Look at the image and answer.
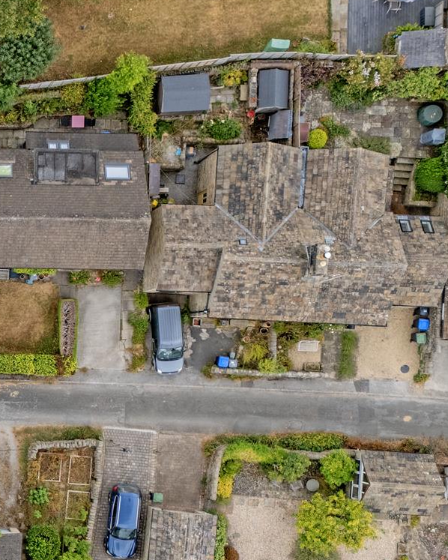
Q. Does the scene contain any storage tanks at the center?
No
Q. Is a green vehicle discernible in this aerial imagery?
No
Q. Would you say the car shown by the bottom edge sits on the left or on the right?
left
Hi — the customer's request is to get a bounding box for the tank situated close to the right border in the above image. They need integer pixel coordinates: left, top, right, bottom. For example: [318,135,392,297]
[408,102,444,131]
